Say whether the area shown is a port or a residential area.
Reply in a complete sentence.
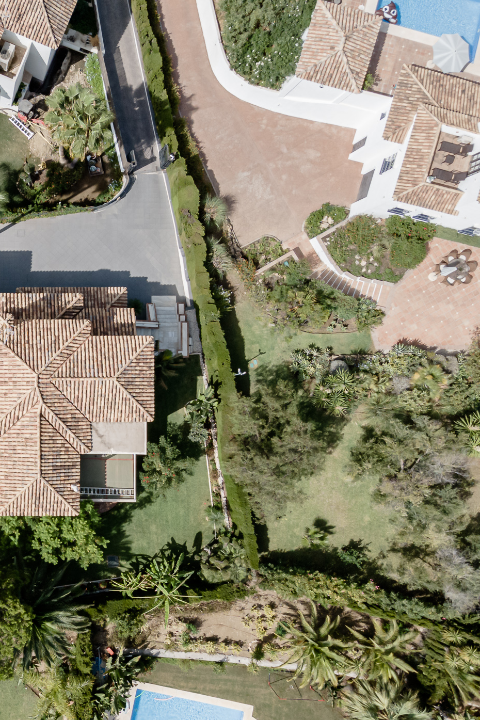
The area seen from above is a residential area.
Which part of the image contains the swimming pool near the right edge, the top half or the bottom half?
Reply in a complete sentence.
The top half of the photo is where the swimming pool near the right edge is.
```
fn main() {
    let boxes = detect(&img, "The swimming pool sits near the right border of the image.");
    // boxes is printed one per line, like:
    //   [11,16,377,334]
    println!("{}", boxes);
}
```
[367,0,480,74]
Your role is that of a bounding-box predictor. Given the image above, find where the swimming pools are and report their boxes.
[112,681,258,720]
[367,0,480,74]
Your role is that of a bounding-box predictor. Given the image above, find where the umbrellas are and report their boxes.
[421,39,463,74]
[427,267,460,282]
